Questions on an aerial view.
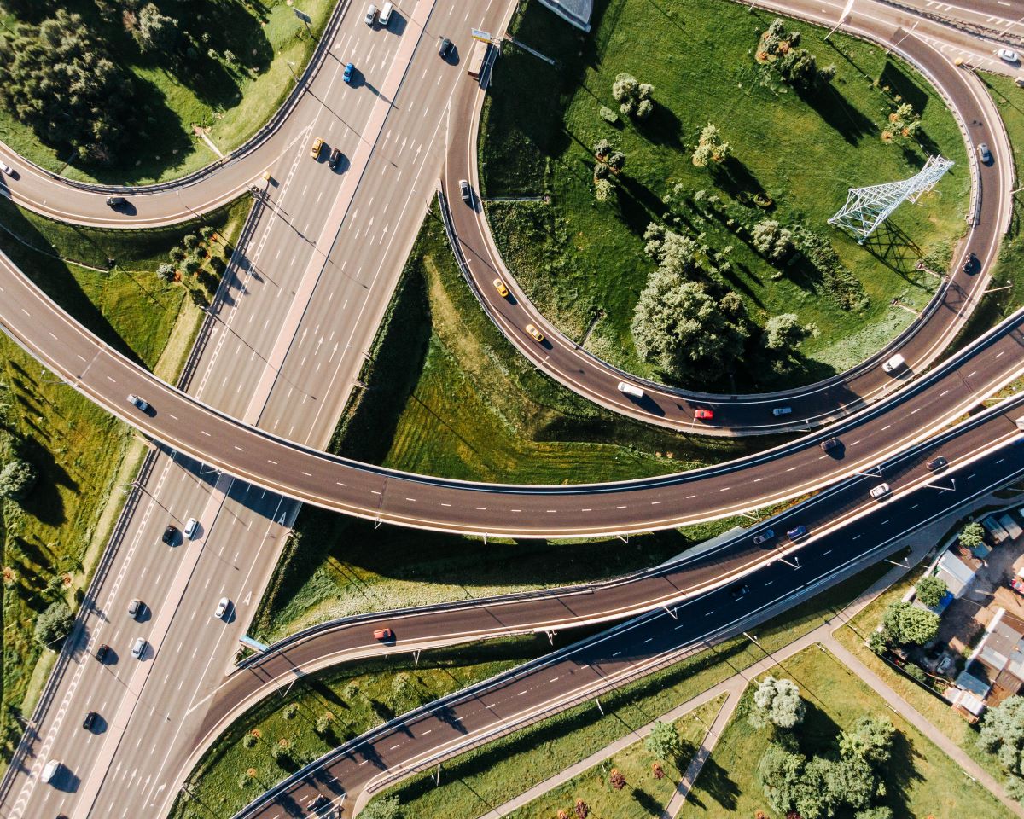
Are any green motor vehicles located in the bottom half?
No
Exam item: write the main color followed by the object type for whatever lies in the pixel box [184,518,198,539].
white car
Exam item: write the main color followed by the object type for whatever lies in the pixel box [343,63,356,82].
blue vehicle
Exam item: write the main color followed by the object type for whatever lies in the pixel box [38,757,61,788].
white truck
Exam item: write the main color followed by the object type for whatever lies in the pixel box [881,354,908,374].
white vehicle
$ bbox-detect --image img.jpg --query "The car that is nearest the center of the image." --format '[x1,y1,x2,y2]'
[525,323,544,342]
